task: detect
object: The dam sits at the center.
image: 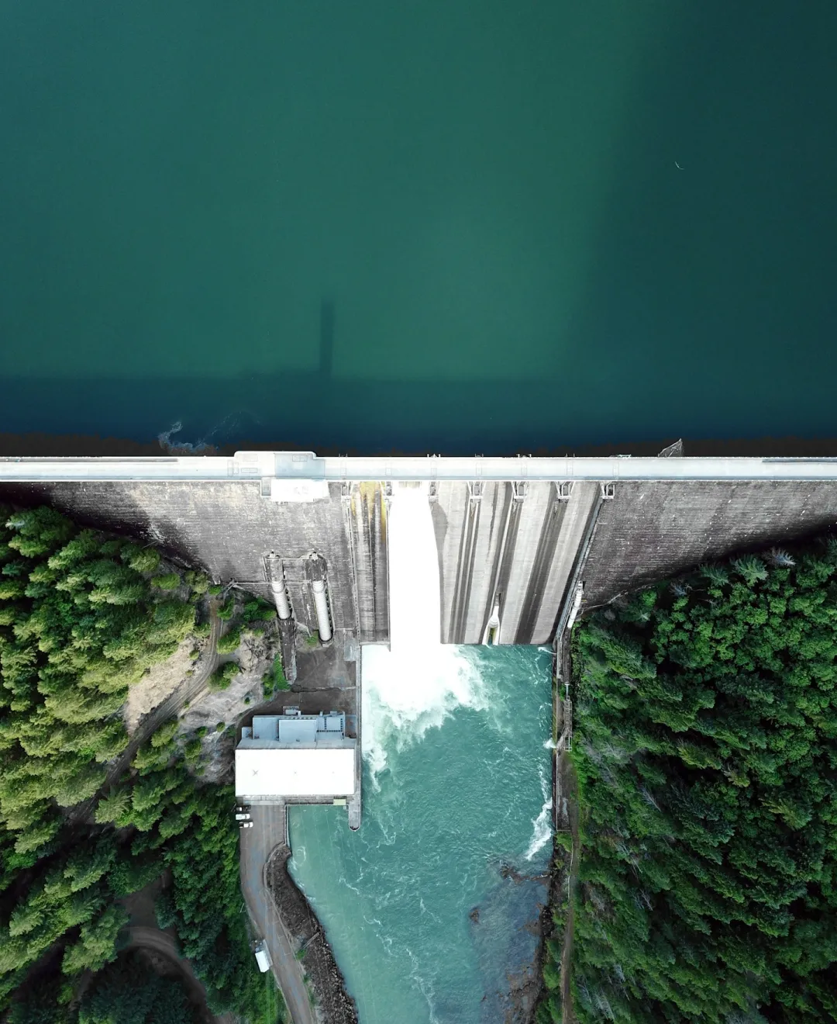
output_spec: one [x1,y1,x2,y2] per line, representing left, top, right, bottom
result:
[0,451,837,653]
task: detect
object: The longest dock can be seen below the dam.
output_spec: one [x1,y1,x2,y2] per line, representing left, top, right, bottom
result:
[348,797,362,830]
